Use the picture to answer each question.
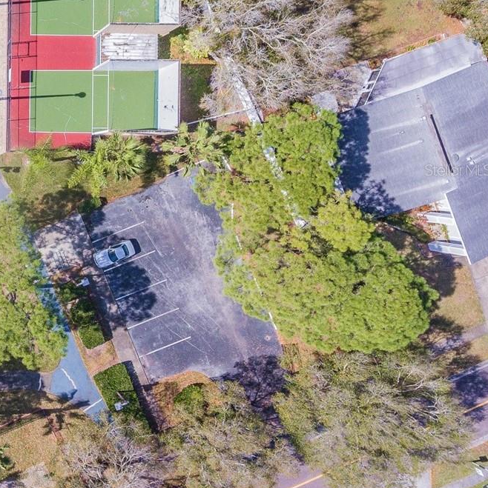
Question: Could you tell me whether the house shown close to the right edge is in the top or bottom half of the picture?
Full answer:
You can find the house shown close to the right edge in the top half.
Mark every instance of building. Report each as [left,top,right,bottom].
[96,34,168,67]
[337,35,488,264]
